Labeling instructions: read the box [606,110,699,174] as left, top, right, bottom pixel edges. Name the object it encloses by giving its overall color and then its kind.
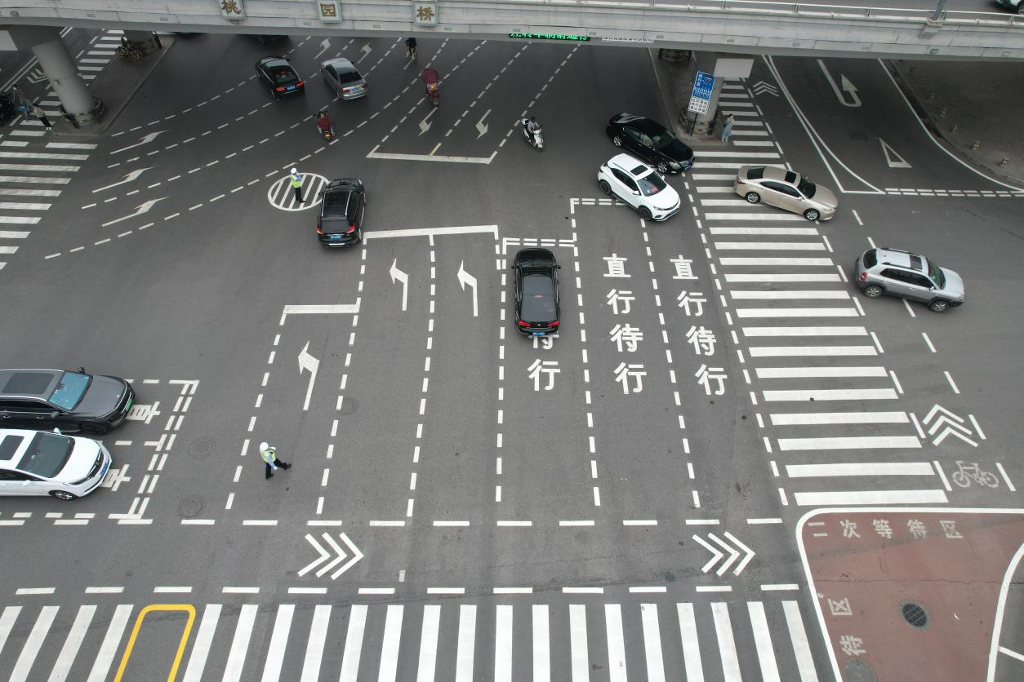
black car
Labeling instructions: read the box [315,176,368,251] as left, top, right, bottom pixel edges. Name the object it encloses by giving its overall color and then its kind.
black car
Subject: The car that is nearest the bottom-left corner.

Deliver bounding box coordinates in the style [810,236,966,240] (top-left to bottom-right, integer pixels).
[0,426,112,498]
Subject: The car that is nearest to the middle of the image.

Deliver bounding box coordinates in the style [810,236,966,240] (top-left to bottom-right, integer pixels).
[510,244,567,336]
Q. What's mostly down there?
paved ground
